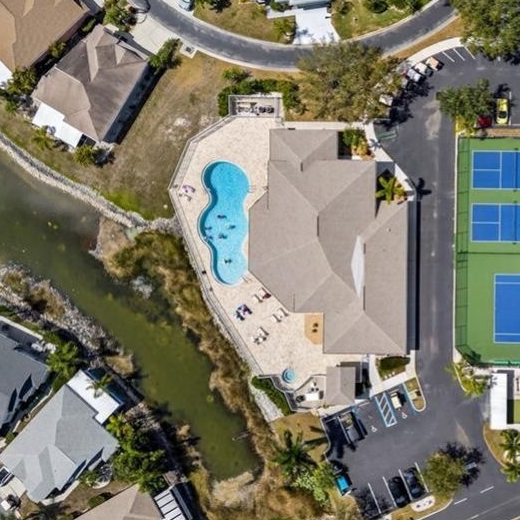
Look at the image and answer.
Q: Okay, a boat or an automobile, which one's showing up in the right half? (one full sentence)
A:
The feature located in the right half is an automobile.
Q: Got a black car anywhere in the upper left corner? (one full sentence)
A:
No, there is no black car in the upper left corner.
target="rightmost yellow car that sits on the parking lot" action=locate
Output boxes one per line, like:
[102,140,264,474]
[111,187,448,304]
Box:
[495,98,509,126]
